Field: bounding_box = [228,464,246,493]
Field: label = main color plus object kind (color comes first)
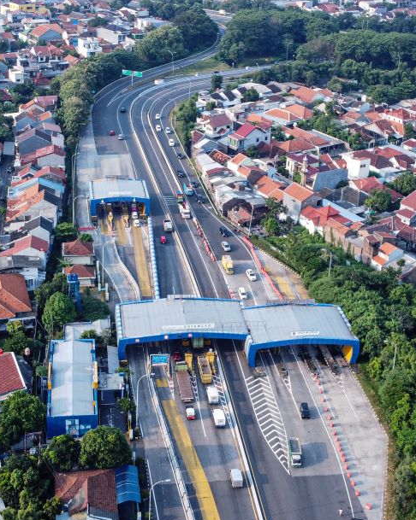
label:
white vehicle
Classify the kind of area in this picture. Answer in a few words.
residential area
